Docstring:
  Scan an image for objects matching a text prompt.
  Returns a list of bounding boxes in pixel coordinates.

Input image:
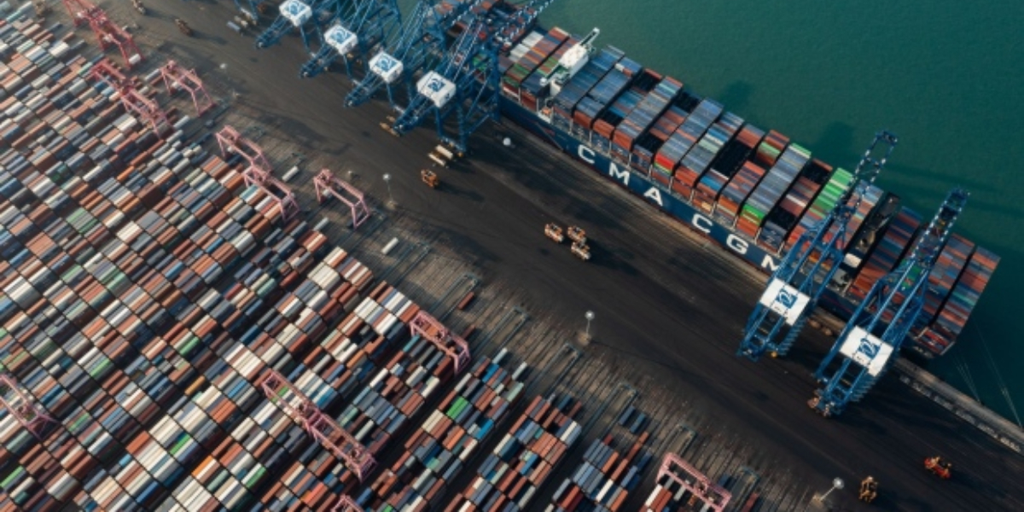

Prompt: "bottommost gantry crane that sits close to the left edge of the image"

[0,372,61,441]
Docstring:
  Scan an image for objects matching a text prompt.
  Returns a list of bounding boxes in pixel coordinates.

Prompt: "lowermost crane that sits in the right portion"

[652,452,728,512]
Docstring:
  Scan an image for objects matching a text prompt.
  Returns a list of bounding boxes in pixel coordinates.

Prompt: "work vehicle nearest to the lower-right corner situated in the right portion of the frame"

[927,456,957,482]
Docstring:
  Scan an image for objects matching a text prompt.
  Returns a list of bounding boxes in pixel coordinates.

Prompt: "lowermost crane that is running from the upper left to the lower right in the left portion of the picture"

[308,411,378,483]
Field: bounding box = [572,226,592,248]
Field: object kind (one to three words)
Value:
work vehicle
